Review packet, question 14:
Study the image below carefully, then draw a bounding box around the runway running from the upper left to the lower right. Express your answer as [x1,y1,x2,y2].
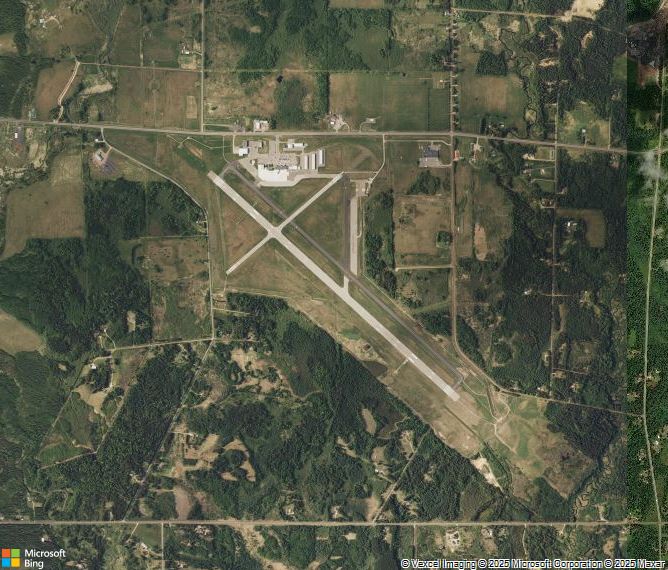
[207,171,460,400]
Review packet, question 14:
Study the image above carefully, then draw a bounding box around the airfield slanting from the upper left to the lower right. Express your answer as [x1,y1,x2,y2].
[192,135,592,500]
